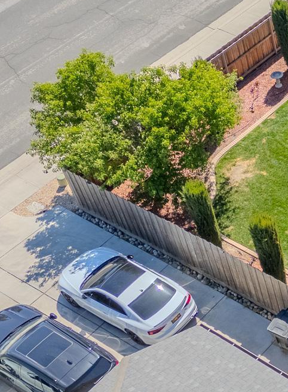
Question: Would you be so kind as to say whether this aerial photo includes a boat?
No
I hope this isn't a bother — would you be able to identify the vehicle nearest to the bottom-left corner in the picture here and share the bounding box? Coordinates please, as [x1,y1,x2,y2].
[0,308,111,392]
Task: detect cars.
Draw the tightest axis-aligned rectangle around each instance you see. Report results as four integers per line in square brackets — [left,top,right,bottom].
[51,245,190,345]
[0,308,111,392]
